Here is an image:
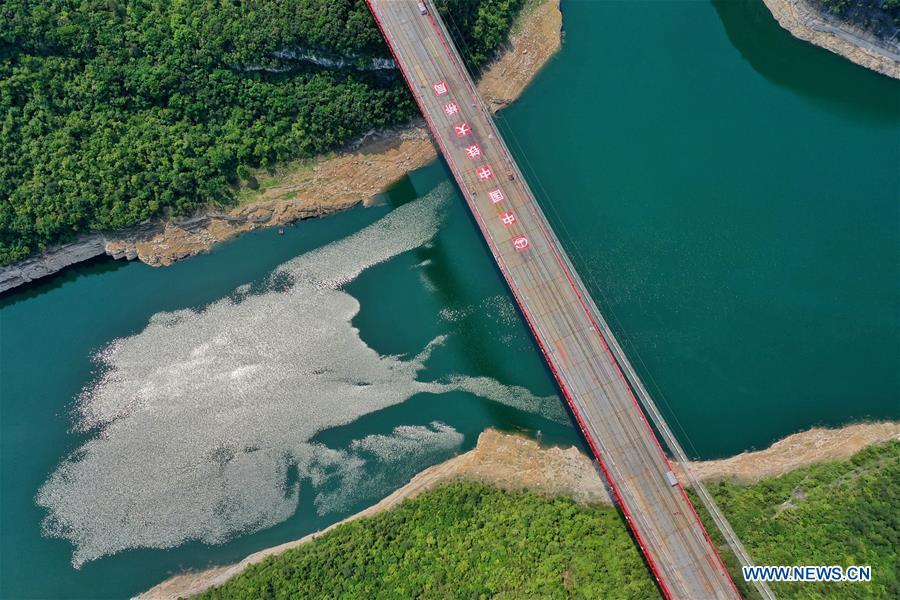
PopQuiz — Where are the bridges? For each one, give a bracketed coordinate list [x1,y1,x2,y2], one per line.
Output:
[366,0,773,600]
